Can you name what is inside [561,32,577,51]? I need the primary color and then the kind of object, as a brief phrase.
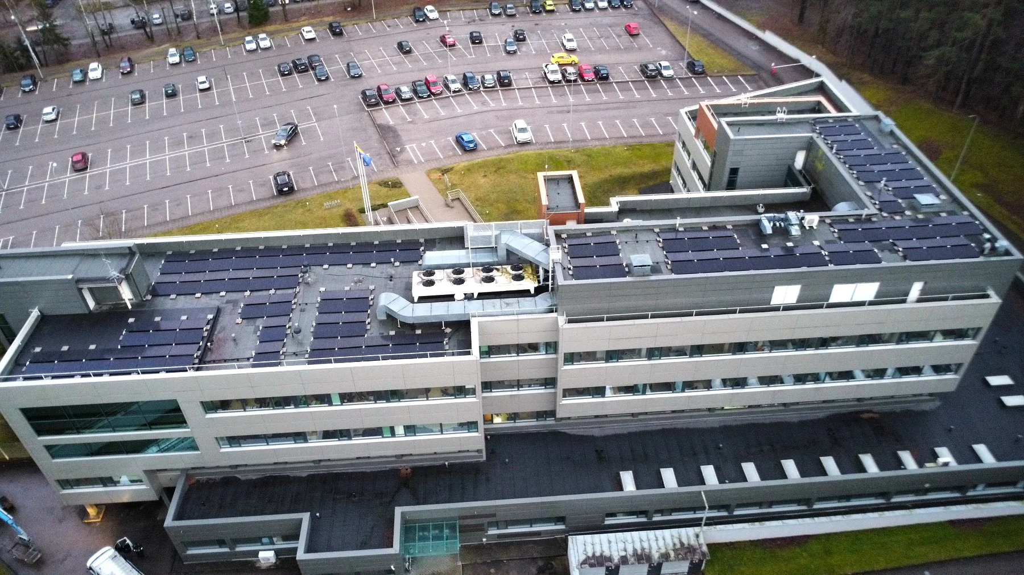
white car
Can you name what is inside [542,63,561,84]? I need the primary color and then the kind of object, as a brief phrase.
white vehicle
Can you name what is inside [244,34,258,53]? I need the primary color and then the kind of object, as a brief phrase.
white car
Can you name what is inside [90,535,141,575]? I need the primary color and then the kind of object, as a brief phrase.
white van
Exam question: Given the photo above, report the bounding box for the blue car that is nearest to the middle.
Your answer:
[455,132,478,154]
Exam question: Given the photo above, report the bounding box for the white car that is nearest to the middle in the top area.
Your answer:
[512,119,531,143]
